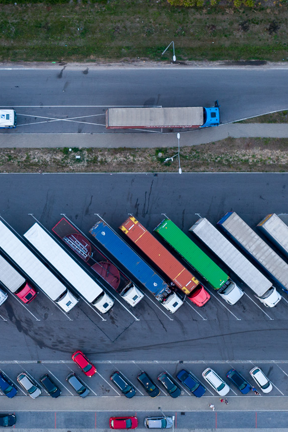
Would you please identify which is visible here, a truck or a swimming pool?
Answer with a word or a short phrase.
truck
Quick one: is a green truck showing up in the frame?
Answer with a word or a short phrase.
Yes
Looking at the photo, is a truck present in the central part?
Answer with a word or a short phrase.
Yes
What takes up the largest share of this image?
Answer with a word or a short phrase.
paved ground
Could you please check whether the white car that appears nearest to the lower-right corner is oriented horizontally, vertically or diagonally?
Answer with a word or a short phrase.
diagonally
